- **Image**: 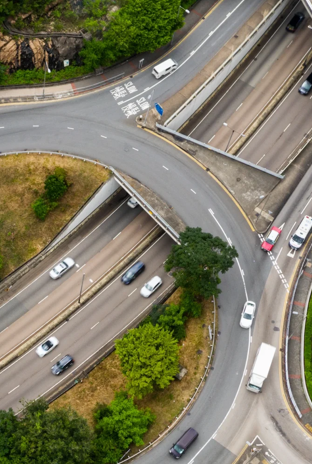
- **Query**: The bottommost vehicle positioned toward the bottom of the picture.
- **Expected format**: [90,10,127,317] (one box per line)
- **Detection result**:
[169,427,198,461]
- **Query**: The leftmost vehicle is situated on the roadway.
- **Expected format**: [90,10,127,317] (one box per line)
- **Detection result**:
[34,335,62,359]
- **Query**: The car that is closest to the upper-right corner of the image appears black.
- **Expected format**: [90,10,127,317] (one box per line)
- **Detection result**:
[285,13,305,34]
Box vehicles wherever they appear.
[121,261,147,286]
[298,71,312,96]
[49,352,77,378]
[285,13,305,34]
[34,335,62,359]
[169,427,198,461]
[49,256,76,282]
[243,338,276,395]
[239,298,257,331]
[286,212,312,253]
[150,58,177,80]
[261,226,282,253]
[123,196,139,212]
[139,274,164,300]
